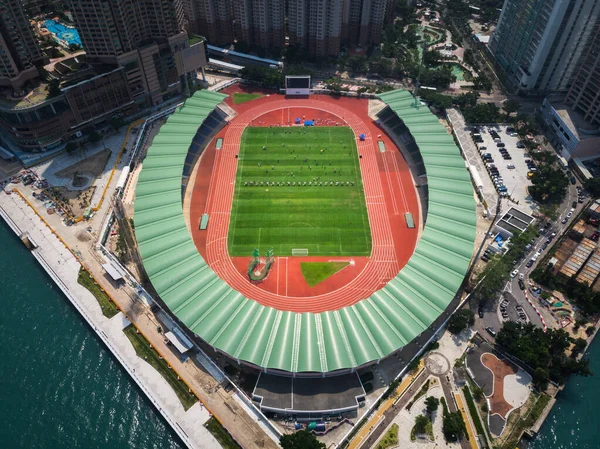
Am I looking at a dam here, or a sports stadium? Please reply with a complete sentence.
There is a sports stadium in the scene.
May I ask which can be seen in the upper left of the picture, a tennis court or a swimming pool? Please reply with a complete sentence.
Looking in the upper left of the picture, you will find a swimming pool.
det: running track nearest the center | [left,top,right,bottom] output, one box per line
[190,81,418,312]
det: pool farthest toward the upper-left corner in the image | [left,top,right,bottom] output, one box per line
[44,17,80,49]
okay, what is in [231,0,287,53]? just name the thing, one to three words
building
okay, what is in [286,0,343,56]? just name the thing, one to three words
building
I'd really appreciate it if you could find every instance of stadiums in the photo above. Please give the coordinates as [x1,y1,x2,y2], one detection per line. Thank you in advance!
[133,88,478,377]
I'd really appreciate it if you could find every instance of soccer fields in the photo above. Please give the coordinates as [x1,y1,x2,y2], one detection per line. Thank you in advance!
[227,125,372,257]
